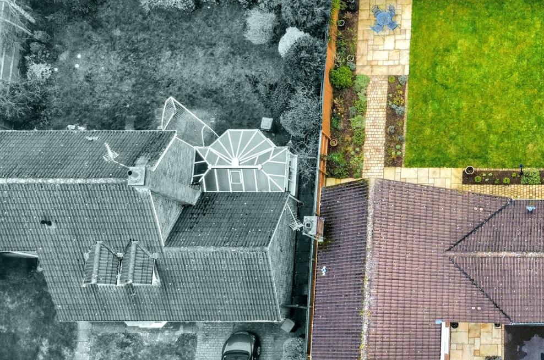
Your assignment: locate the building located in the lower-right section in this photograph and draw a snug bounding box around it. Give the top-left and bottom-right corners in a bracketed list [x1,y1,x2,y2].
[301,178,544,360]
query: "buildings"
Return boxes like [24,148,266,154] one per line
[301,178,544,360]
[0,127,302,332]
